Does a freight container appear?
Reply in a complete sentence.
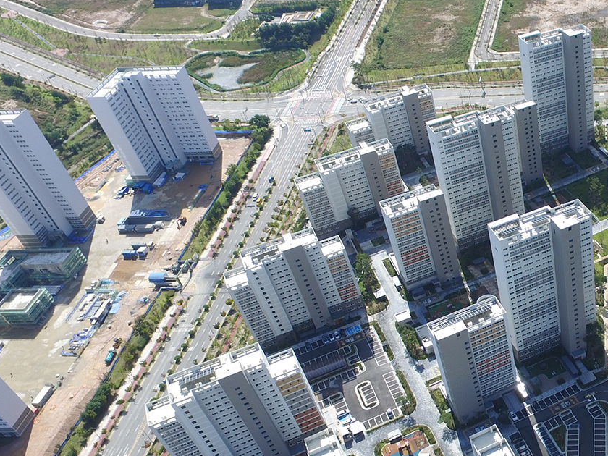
Yes, this view includes a freight container.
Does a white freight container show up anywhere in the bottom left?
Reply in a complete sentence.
Yes, a white freight container is visible in the bottom left.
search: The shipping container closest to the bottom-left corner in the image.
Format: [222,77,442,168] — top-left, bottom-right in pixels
[26,378,53,407]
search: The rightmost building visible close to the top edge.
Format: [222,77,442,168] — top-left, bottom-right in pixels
[521,19,594,157]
